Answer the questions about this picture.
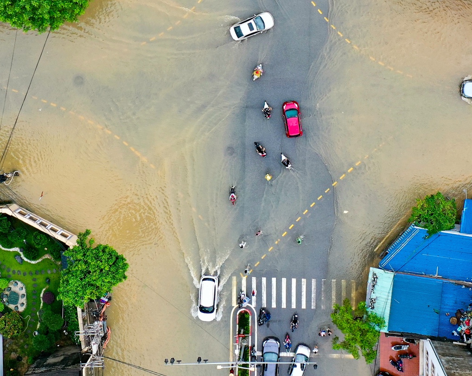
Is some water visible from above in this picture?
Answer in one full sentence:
Yes, there is water in the image.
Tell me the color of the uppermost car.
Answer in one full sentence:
The uppermost car is white.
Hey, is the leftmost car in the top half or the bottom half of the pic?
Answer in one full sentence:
The leftmost car is in the bottom half of the image.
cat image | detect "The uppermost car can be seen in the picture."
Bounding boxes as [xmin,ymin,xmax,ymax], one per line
[228,10,276,41]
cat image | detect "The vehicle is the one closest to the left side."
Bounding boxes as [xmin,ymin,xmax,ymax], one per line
[197,273,219,320]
